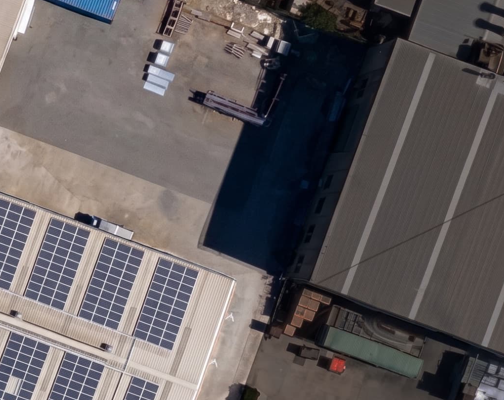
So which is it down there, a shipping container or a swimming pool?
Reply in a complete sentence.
This aerial view contains a shipping container.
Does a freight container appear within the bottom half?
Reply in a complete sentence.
Yes, I can see a freight container within the bottom half.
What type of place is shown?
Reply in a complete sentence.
The area seen from above is an industrial area.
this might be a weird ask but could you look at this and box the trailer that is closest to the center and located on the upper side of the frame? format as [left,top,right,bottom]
[203,91,267,127]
